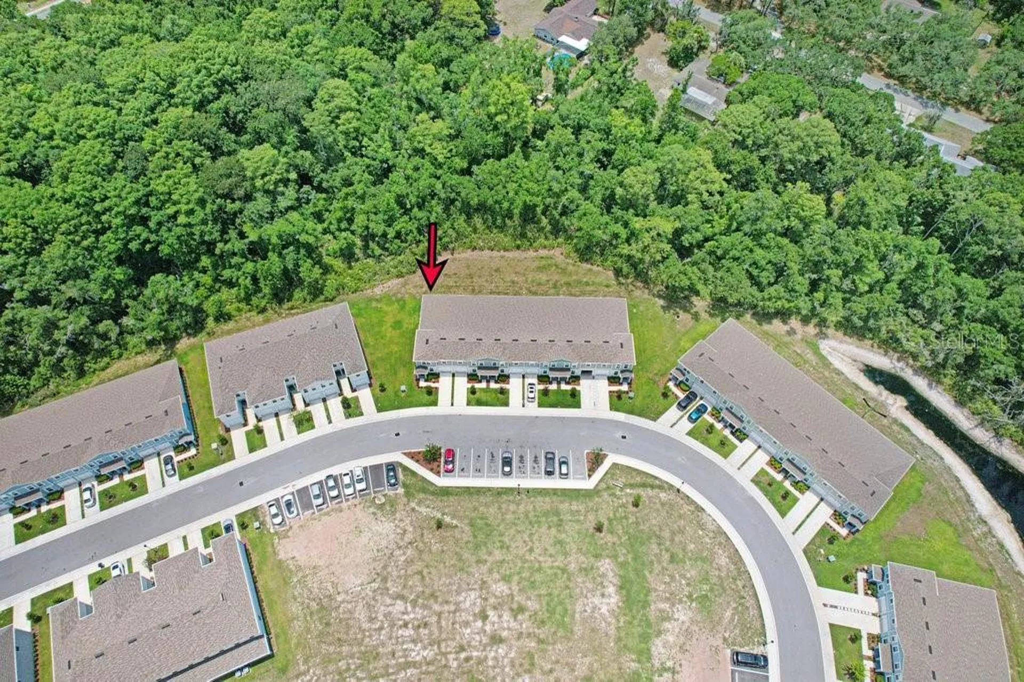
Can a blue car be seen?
Yes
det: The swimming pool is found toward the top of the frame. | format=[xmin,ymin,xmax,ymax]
[553,50,578,68]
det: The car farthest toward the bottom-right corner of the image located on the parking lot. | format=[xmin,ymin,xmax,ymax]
[734,652,765,668]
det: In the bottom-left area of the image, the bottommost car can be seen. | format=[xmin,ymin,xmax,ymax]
[109,558,127,579]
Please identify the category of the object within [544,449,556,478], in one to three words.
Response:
vehicle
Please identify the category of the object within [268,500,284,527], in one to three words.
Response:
car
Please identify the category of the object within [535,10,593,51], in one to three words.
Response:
house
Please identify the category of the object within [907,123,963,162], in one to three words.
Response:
house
